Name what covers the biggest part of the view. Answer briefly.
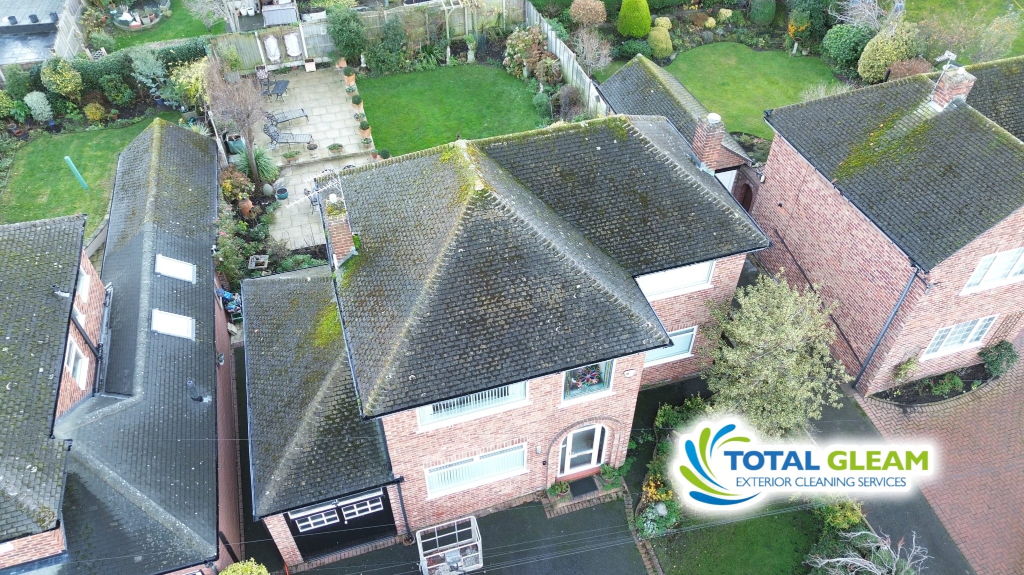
buildings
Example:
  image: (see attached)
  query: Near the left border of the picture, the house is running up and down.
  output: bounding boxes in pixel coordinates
[0,101,240,575]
